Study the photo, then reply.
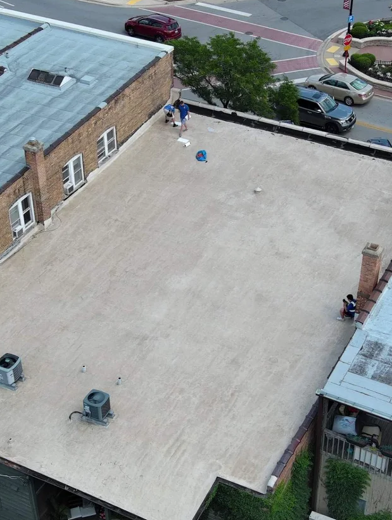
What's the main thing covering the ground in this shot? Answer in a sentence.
The bulk of the photo consists of buildings.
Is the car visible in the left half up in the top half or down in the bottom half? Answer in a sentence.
The car visible in the left half is in the top half of the image.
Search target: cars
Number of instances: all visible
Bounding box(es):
[277,83,360,133]
[120,10,181,40]
[354,130,392,145]
[306,69,374,105]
